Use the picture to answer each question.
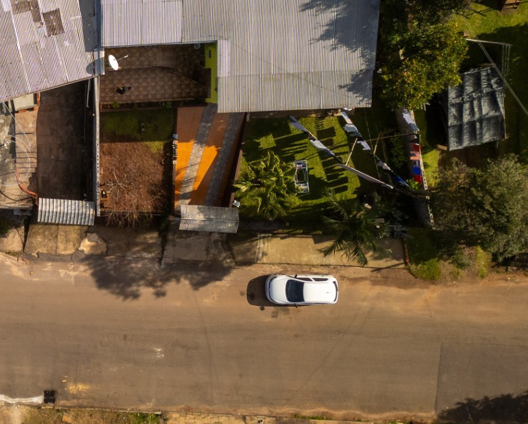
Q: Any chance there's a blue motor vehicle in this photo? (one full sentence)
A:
No, no blue motor vehicle is visible in the scene.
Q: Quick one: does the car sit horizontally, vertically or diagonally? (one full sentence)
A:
In this picture, the car is oriented horizontally.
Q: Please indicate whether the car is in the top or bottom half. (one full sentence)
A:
The bottom half of the photo is where the car is.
